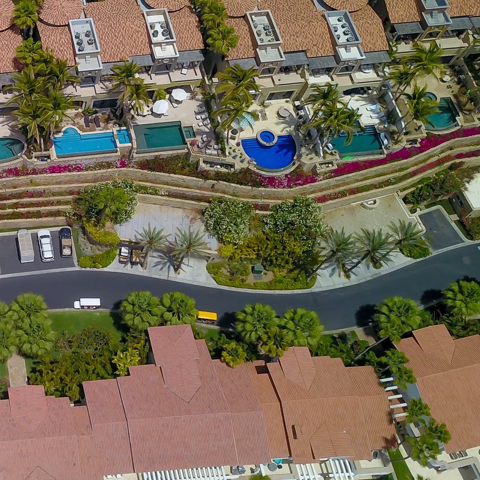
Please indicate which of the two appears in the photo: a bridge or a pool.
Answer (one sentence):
The image shows a pool.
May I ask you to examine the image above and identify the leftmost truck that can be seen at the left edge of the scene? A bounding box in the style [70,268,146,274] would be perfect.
[14,227,37,268]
